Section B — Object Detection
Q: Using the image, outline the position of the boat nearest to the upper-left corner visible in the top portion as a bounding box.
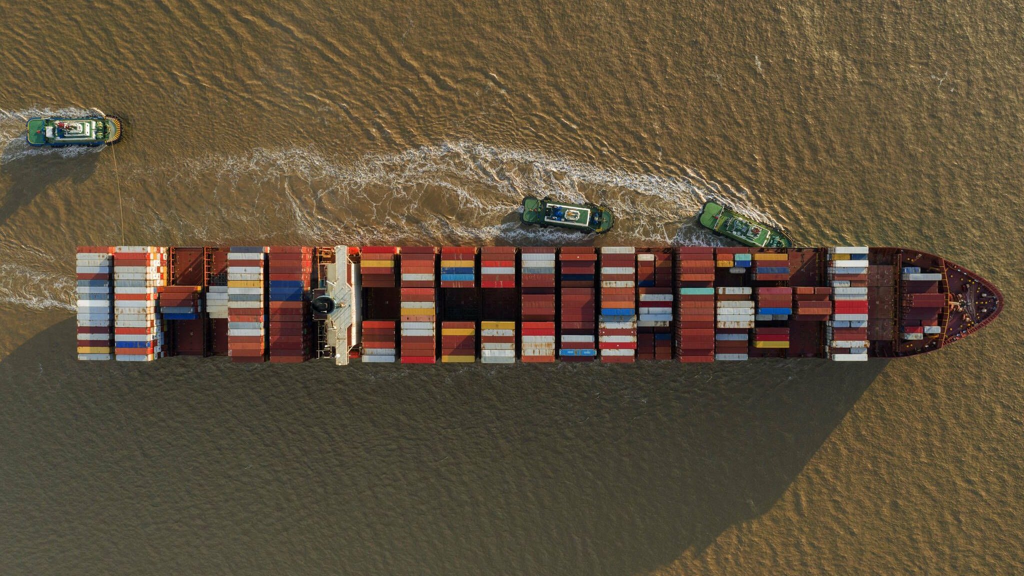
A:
[27,116,123,147]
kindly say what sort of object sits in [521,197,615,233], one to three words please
boat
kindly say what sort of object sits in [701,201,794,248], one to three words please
boat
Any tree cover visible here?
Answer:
No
